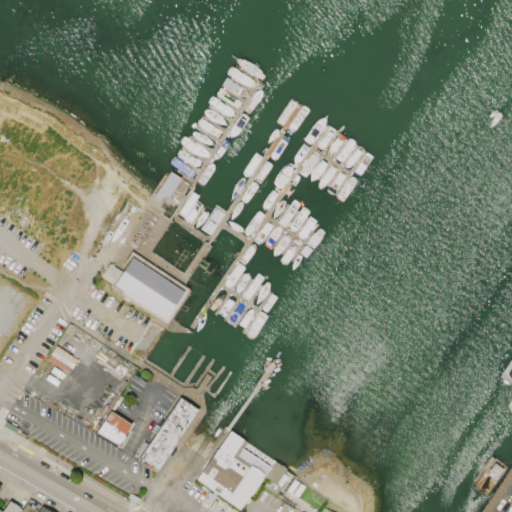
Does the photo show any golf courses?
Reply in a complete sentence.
No, the scene contains no golf course.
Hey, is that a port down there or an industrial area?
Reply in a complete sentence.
The area seen from above is a port.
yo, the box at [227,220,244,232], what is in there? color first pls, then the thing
white boat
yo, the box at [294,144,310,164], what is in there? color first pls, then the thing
white boat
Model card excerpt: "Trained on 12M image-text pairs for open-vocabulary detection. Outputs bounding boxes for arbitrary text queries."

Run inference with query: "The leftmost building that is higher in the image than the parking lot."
[49,345,81,374]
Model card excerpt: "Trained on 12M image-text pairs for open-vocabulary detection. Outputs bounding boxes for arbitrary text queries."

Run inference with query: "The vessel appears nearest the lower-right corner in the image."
[476,459,508,496]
